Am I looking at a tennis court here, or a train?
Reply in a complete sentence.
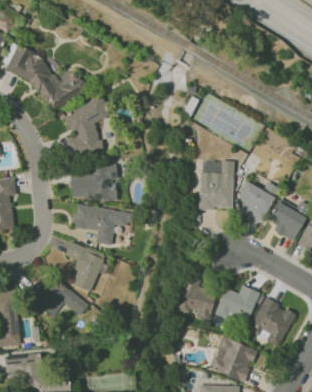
Of the two, only a tennis court appears.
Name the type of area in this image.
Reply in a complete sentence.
This image shows a residential area.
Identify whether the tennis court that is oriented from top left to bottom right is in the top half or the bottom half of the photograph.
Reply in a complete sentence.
The tennis court that is oriented from top left to bottom right sits in the top half of the picture.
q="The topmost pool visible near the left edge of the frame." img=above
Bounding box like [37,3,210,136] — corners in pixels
[0,146,14,168]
